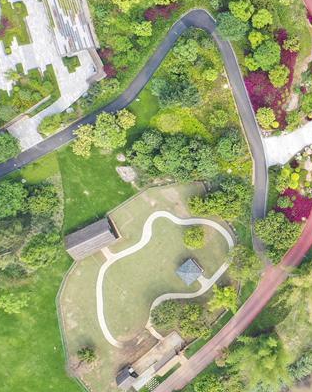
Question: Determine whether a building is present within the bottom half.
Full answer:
Yes, a building can be seen within the bottom half.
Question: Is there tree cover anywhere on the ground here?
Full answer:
Yes, there is tree cover in the image.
